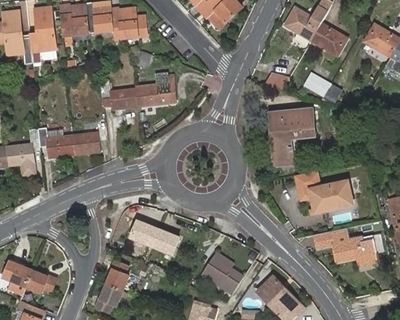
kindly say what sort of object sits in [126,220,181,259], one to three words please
house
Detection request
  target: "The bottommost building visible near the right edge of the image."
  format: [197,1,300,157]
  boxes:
[314,228,385,272]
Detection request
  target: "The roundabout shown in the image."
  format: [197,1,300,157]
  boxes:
[159,125,245,210]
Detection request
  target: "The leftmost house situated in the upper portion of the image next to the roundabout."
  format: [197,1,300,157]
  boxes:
[102,73,178,114]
